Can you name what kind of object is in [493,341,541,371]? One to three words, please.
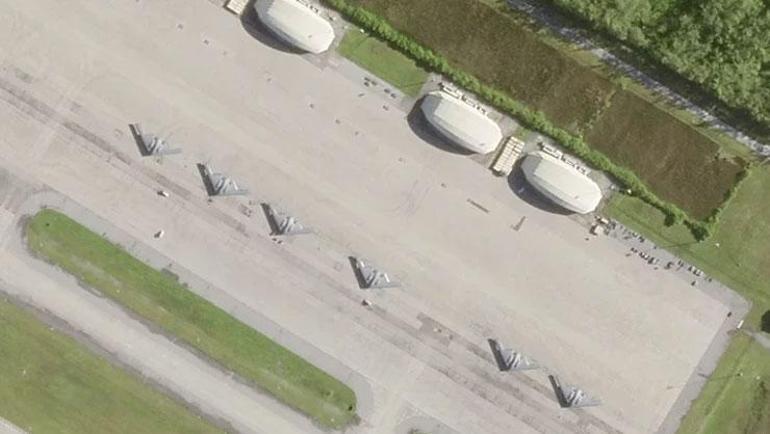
airplane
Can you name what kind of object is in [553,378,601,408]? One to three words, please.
airplane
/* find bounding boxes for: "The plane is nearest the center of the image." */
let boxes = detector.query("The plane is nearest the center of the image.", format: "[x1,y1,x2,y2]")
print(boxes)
[351,259,400,289]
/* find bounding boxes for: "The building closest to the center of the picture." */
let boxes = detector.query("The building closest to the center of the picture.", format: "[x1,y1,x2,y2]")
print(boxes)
[422,93,501,151]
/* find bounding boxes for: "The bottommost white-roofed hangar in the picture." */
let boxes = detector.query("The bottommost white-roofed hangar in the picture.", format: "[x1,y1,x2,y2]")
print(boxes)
[522,153,601,211]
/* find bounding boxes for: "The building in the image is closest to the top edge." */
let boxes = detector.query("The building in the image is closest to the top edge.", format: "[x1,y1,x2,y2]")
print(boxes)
[253,0,332,50]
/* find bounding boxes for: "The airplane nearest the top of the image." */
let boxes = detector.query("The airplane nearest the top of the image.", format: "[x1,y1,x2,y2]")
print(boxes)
[134,126,182,155]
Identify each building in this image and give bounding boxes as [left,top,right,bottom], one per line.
[253,0,332,50]
[522,153,601,211]
[422,93,501,151]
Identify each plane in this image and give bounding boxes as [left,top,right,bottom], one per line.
[134,126,182,155]
[264,205,312,235]
[201,166,249,196]
[553,378,601,408]
[493,341,541,371]
[351,259,400,289]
